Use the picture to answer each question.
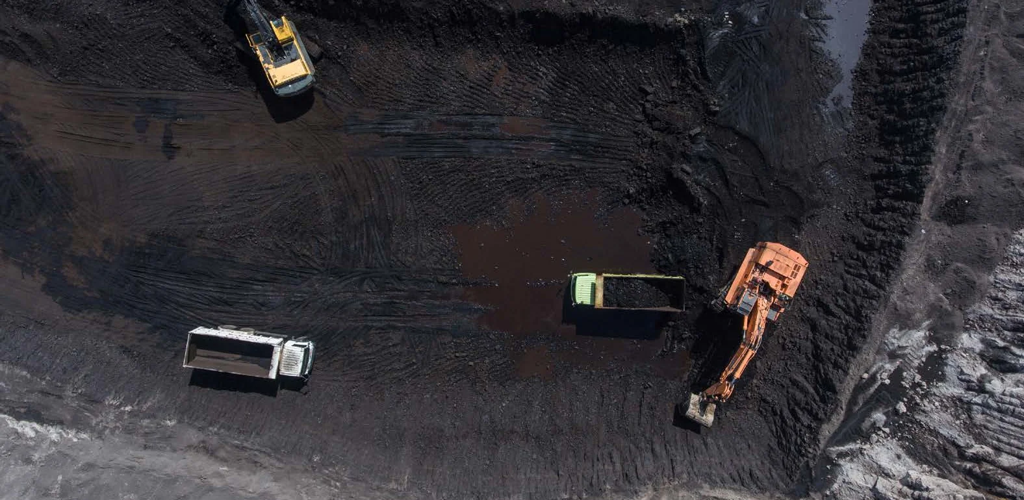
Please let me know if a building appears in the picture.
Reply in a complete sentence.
No, there isn't any building down there.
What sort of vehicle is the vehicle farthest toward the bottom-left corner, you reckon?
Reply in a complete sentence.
The vehicle farthest toward the bottom-left corner is a truck.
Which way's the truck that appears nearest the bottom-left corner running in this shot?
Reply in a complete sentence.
The truck that appears nearest the bottom-left corner is oriented from left to right.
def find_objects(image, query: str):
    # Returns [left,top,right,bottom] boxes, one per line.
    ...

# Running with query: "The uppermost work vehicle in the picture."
[240,0,325,99]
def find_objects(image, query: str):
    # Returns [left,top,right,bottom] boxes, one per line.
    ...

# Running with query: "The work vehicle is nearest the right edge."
[683,241,806,425]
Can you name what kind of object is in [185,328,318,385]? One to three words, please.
truck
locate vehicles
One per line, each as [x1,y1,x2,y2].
[185,328,318,385]
[240,0,325,99]
[567,269,686,312]
[683,241,806,425]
